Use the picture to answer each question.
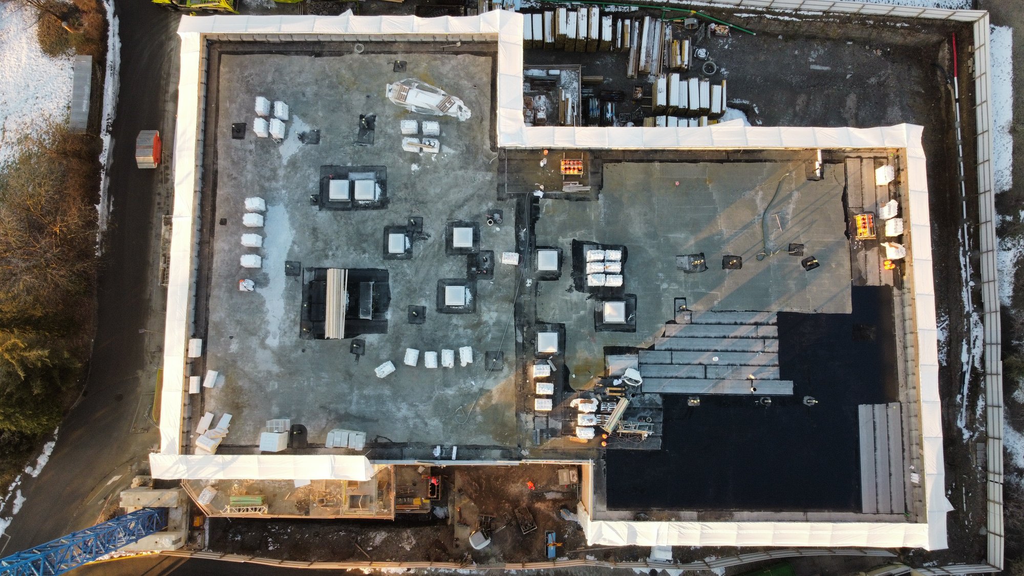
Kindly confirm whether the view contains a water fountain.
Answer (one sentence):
No, no water fountain is visible in the scene.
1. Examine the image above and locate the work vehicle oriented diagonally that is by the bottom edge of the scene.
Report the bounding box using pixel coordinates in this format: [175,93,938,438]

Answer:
[468,510,502,554]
